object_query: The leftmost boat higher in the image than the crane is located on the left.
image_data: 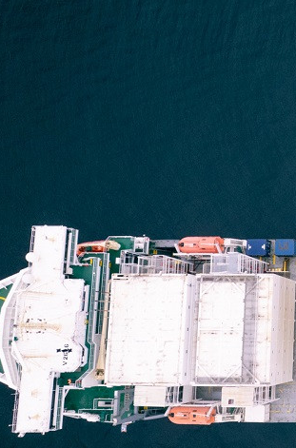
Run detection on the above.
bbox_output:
[78,239,112,257]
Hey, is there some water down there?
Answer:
Yes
